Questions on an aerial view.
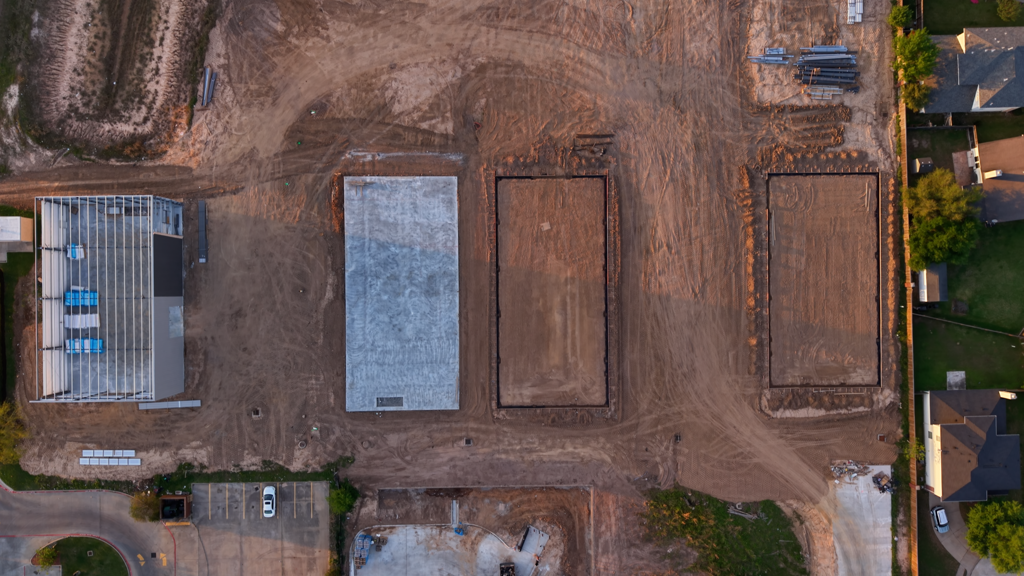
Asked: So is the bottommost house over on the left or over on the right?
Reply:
right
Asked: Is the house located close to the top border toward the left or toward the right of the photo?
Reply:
right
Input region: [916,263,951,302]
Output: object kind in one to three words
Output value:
shed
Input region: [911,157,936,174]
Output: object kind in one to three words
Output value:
shed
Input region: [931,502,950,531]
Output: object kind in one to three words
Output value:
car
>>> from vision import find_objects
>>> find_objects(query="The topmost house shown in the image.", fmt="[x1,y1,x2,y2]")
[918,27,1024,113]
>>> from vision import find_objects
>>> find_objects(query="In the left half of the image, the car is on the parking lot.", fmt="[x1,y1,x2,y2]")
[261,486,276,518]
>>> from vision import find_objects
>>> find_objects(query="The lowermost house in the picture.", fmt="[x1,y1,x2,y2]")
[922,389,1021,502]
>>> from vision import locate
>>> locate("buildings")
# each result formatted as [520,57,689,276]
[918,27,1024,113]
[959,135,1024,224]
[911,157,936,174]
[28,194,185,403]
[0,216,33,242]
[922,389,1021,502]
[916,263,951,302]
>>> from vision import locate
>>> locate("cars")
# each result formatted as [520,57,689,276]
[261,486,276,518]
[931,502,950,531]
